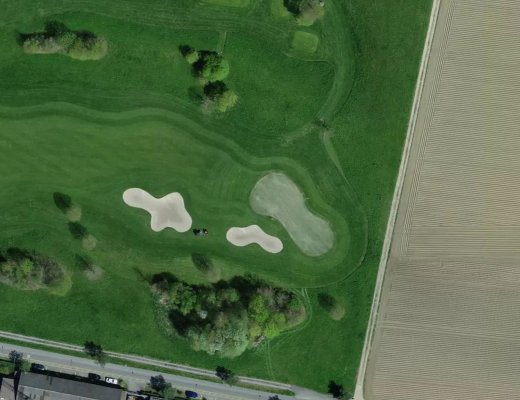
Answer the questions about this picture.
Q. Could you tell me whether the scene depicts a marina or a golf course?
golf course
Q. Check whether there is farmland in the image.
Yes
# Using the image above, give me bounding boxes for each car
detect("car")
[32,364,44,371]
[185,391,197,398]
[89,374,100,380]
[106,379,117,385]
